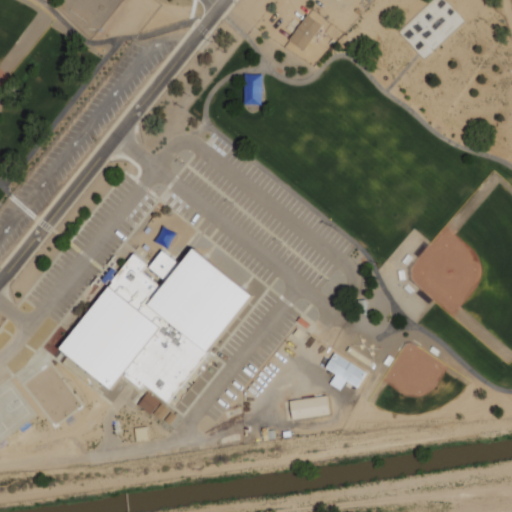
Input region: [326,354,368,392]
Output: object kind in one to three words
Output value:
building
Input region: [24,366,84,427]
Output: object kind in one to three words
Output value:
sports court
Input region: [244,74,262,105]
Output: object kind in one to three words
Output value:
building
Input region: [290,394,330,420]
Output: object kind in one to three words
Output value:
barn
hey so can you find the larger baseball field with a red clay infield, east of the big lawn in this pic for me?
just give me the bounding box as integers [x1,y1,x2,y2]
[410,171,512,364]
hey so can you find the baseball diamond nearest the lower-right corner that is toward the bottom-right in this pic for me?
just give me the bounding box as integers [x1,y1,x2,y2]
[376,342,466,414]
